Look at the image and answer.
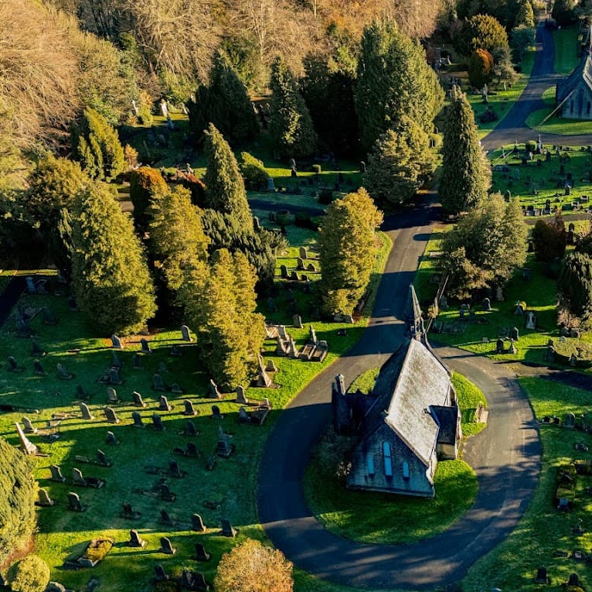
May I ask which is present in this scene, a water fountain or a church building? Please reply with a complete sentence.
The one in the frame is a church building.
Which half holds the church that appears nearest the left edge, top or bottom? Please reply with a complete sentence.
The church that appears nearest the left edge is in the bottom half of the image.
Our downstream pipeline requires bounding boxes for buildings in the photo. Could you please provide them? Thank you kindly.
[554,20,592,120]
[324,276,468,500]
